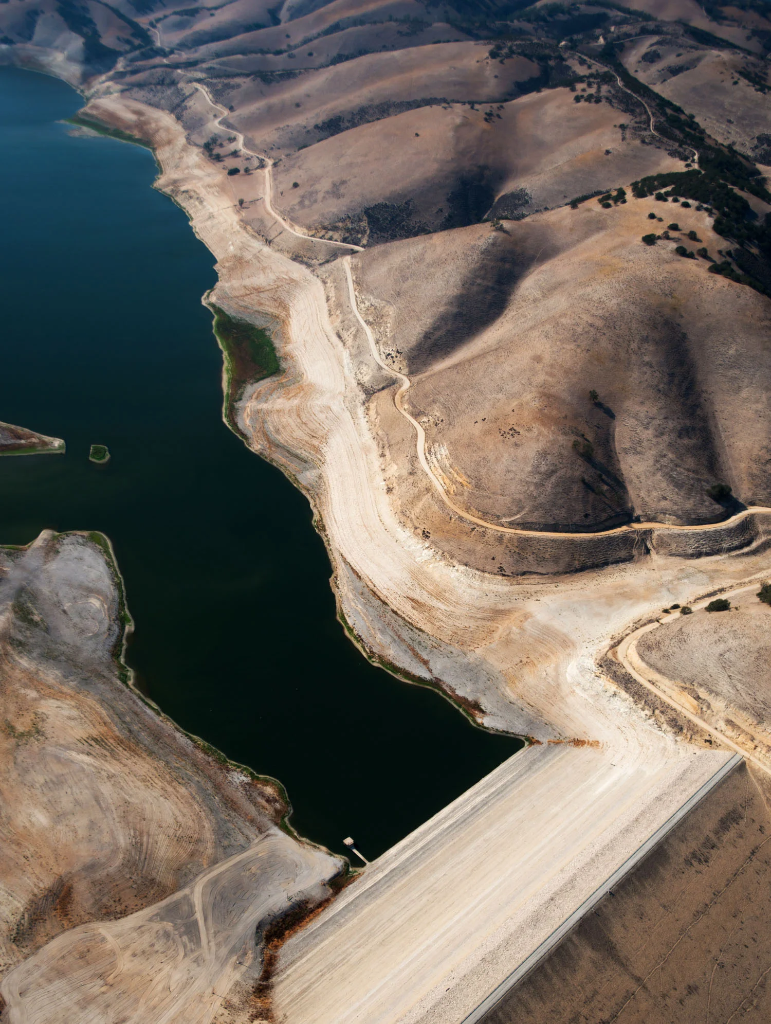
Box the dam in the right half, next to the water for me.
[274,740,771,1024]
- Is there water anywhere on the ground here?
Yes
